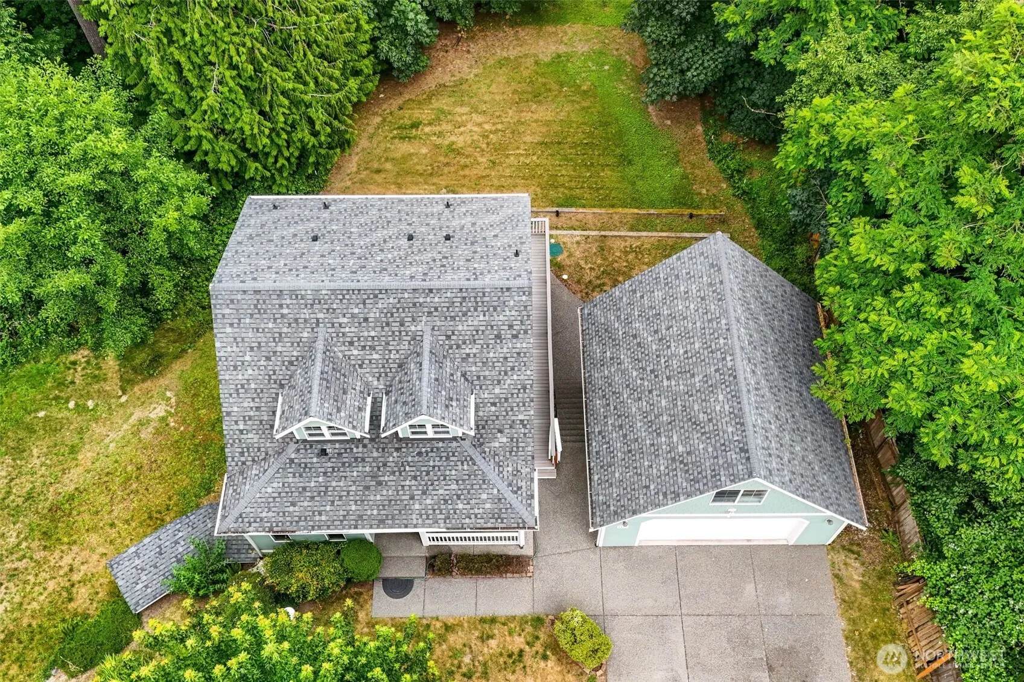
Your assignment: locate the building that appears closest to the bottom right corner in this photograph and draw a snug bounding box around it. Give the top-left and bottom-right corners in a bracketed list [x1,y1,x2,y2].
[578,234,867,550]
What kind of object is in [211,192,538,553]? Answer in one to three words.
house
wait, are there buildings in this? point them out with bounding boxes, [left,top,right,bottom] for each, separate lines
[578,234,867,550]
[211,192,538,553]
